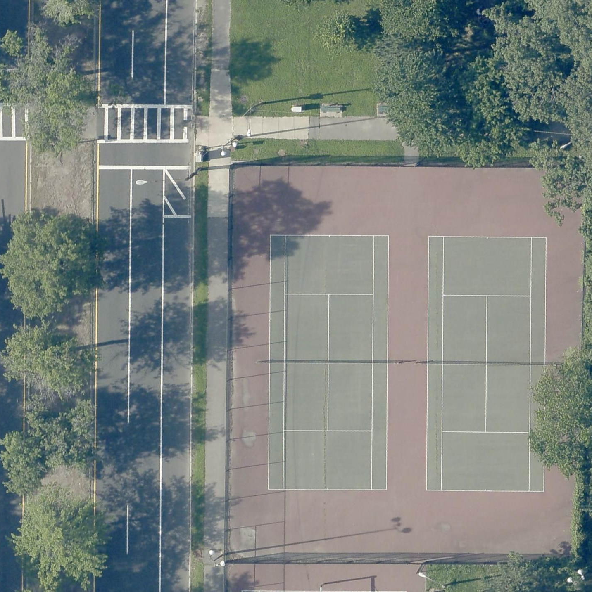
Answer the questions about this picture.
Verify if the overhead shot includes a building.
No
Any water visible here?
No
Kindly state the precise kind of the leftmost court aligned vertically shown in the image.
tennis court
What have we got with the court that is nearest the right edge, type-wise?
tennis court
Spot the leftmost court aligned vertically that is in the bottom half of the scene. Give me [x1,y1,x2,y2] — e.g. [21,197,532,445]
[268,235,389,543]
